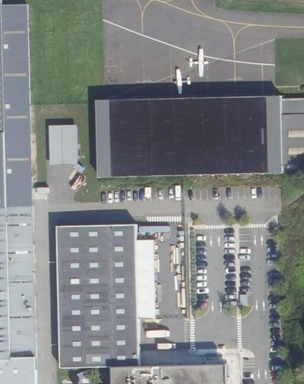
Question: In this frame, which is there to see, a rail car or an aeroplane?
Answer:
aeroplane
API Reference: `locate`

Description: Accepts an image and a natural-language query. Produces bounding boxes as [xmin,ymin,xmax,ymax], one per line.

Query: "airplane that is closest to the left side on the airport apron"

[174,68,192,94]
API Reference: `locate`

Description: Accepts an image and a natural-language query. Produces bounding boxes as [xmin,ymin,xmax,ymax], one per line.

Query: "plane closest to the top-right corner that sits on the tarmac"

[188,48,208,76]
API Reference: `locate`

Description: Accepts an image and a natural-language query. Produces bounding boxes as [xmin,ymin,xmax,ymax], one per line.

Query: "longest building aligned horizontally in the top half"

[94,94,284,178]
